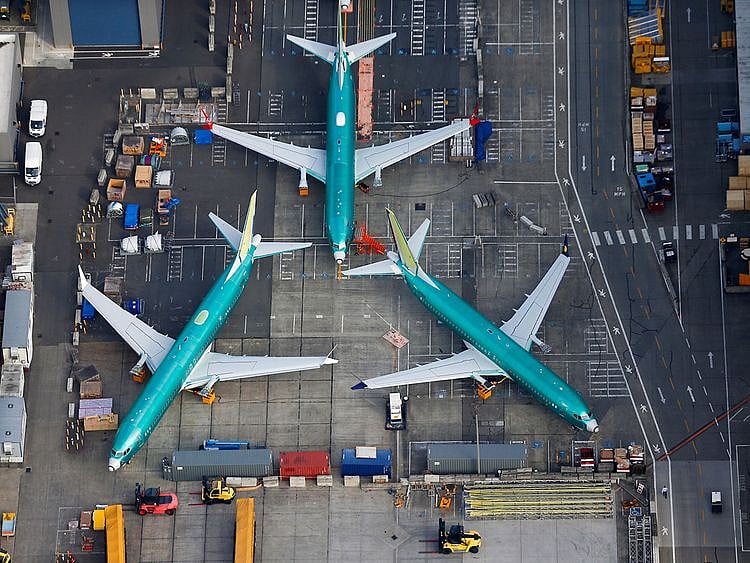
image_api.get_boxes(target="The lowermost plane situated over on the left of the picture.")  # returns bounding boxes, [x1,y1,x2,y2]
[77,191,338,470]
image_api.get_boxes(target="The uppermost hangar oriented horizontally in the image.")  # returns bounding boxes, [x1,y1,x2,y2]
[51,0,159,49]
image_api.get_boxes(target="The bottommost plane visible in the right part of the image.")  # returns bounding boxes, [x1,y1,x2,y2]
[344,209,599,432]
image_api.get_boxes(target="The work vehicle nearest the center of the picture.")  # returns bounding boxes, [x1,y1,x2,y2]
[385,397,406,432]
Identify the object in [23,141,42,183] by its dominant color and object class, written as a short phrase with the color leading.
white vehicle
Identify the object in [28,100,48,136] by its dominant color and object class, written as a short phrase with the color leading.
white vehicle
